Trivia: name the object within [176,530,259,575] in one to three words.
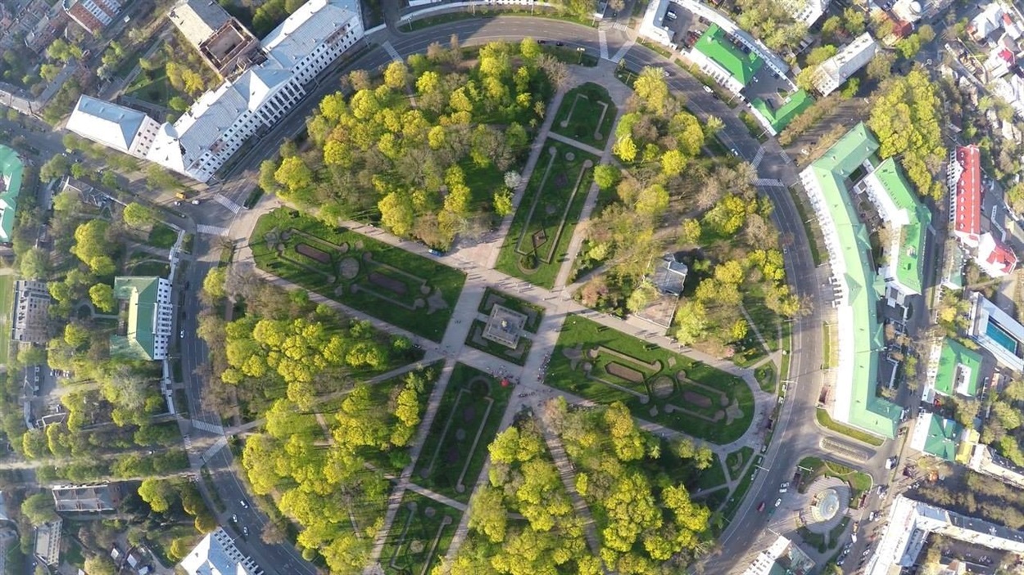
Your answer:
building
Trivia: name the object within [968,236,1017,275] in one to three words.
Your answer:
house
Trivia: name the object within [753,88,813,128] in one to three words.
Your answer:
house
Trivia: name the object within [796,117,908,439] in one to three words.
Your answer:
building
